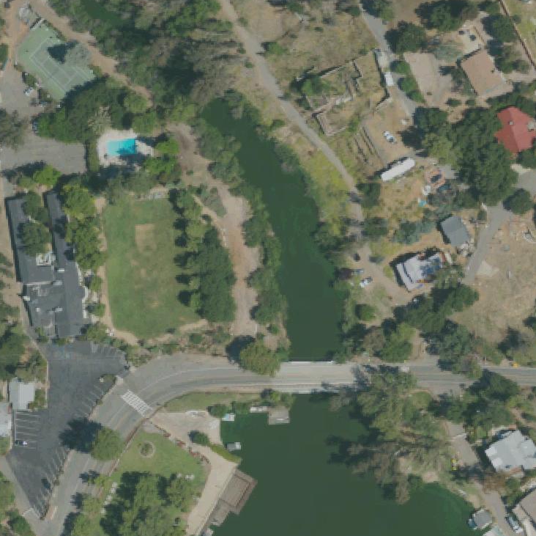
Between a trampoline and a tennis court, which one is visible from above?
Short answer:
tennis court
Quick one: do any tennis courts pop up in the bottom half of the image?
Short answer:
No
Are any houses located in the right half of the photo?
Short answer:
Yes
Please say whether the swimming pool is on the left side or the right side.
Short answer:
left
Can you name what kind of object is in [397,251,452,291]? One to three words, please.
house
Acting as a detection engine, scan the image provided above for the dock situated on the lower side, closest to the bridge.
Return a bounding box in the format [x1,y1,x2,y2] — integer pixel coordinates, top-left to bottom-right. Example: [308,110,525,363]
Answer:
[269,407,289,424]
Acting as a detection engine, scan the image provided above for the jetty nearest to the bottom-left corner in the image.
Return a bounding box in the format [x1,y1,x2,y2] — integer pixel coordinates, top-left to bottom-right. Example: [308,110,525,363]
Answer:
[210,470,257,525]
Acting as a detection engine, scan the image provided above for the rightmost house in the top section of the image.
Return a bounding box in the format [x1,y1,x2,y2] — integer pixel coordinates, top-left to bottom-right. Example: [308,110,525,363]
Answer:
[496,108,536,151]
